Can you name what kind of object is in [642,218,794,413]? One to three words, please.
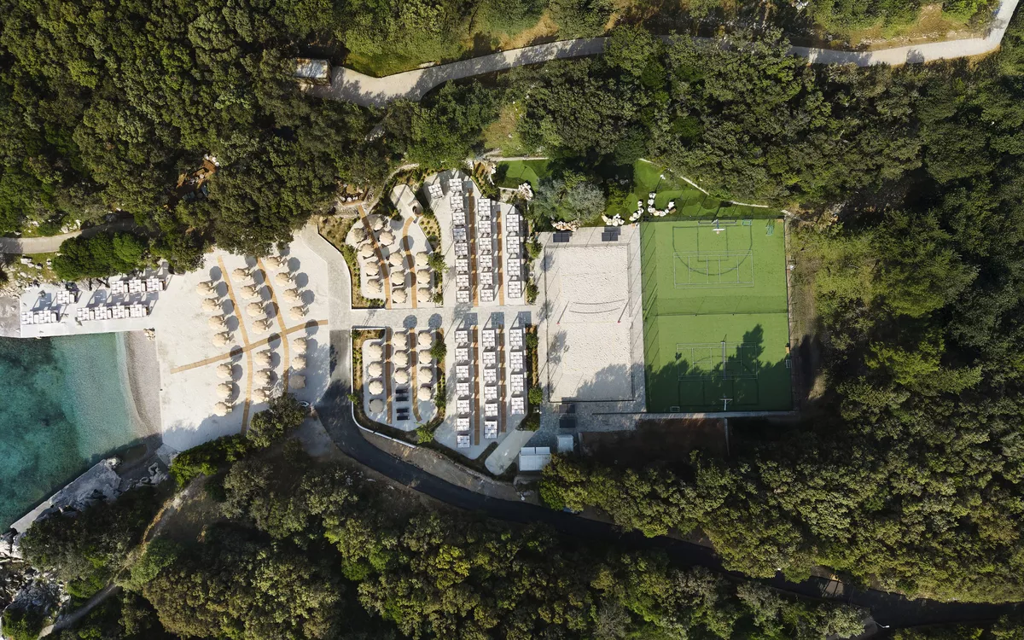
sports court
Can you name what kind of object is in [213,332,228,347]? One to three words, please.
umbrella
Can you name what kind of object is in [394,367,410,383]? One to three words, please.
umbrella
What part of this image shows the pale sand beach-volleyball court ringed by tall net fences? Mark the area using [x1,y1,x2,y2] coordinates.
[545,246,633,401]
